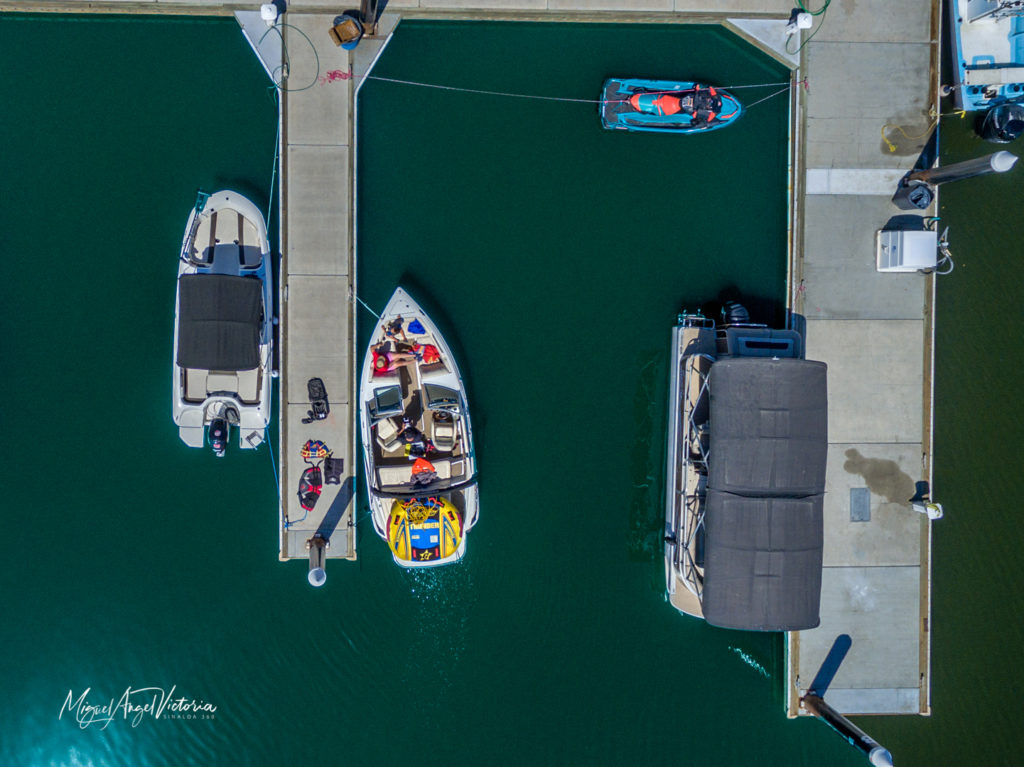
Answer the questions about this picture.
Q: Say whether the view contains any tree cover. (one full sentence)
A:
No, there's no tree cover in this view.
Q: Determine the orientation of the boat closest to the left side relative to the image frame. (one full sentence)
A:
The boat closest to the left side is oriented vertically.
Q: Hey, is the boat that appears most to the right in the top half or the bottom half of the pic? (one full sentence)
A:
Seen from above, the boat that appears most to the right lies in the top half of the view.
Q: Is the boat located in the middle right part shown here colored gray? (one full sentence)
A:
Yes, gray is the color of the boat located in the middle right part.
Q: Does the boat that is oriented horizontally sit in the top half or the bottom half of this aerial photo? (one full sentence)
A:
The boat that is oriented horizontally sits in the top half of the picture.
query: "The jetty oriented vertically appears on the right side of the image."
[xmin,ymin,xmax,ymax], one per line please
[717,0,941,718]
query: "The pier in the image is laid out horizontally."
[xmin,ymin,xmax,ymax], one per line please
[0,0,799,30]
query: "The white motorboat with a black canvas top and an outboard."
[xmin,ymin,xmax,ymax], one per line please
[173,189,273,456]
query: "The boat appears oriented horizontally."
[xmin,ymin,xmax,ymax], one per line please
[599,79,742,135]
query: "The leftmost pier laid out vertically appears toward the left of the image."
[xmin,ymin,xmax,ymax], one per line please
[235,12,402,561]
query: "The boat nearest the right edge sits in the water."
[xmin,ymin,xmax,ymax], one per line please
[944,0,1024,147]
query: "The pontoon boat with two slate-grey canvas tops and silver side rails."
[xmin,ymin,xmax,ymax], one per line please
[664,298,827,632]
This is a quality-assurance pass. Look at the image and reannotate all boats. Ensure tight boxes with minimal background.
[944,0,1024,147]
[664,298,827,632]
[173,189,273,456]
[599,79,742,135]
[360,287,479,567]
